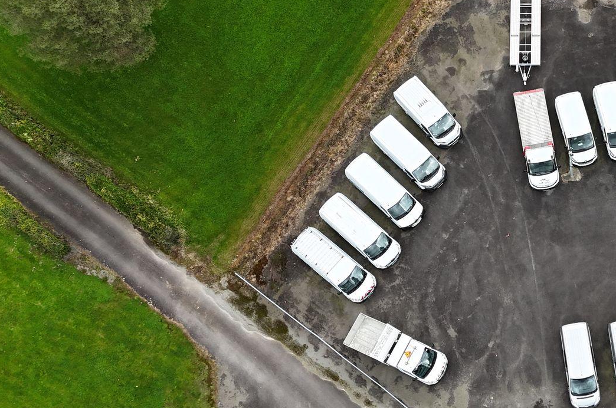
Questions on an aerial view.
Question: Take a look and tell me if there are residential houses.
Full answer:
No, the frame has no residential house in it.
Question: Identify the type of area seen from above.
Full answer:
What you see here is a parking lot.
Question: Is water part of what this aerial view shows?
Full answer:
No, the picture contains no water.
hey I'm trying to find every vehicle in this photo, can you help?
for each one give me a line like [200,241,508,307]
[554,92,599,169]
[391,75,462,151]
[292,229,377,305]
[592,85,616,161]
[348,154,425,232]
[344,313,448,386]
[512,89,562,190]
[372,118,444,194]
[321,195,402,271]
[560,325,603,408]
